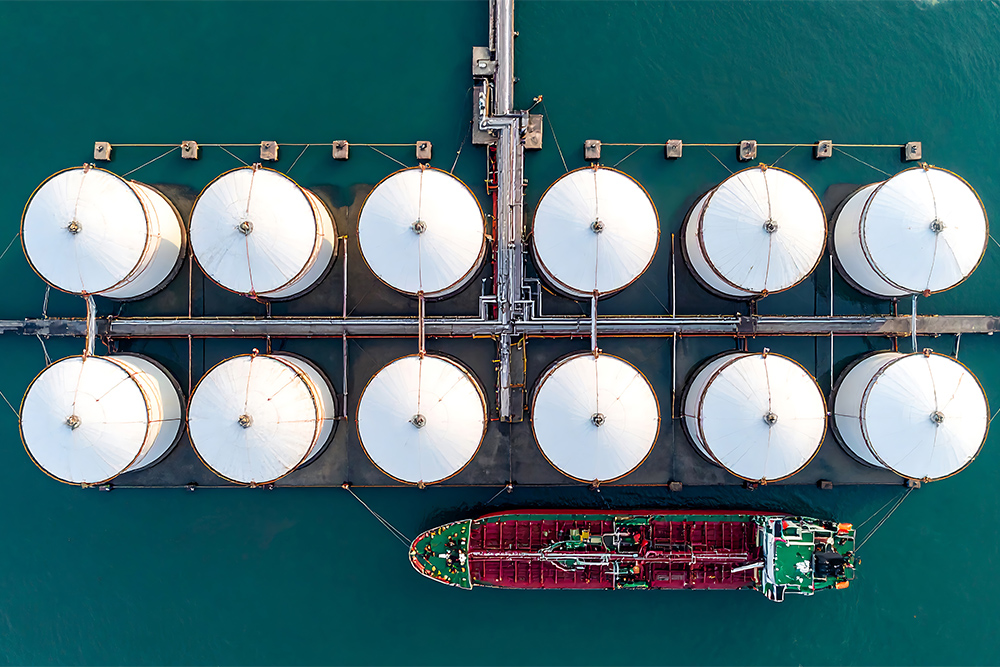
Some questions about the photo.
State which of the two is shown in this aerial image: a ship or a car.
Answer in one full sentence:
Visible in the photo is a ship.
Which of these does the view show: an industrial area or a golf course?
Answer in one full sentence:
This looks like an industrial area.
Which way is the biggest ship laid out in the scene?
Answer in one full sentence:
From this overhead view, the biggest ship appears to run from side to side.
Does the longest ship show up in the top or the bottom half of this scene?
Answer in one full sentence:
You can find the longest ship in the bottom half.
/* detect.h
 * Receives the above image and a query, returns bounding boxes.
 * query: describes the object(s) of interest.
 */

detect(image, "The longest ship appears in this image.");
[408,509,857,601]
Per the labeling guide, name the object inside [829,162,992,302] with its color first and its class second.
white storage tank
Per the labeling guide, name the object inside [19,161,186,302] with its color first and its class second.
white storage tank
